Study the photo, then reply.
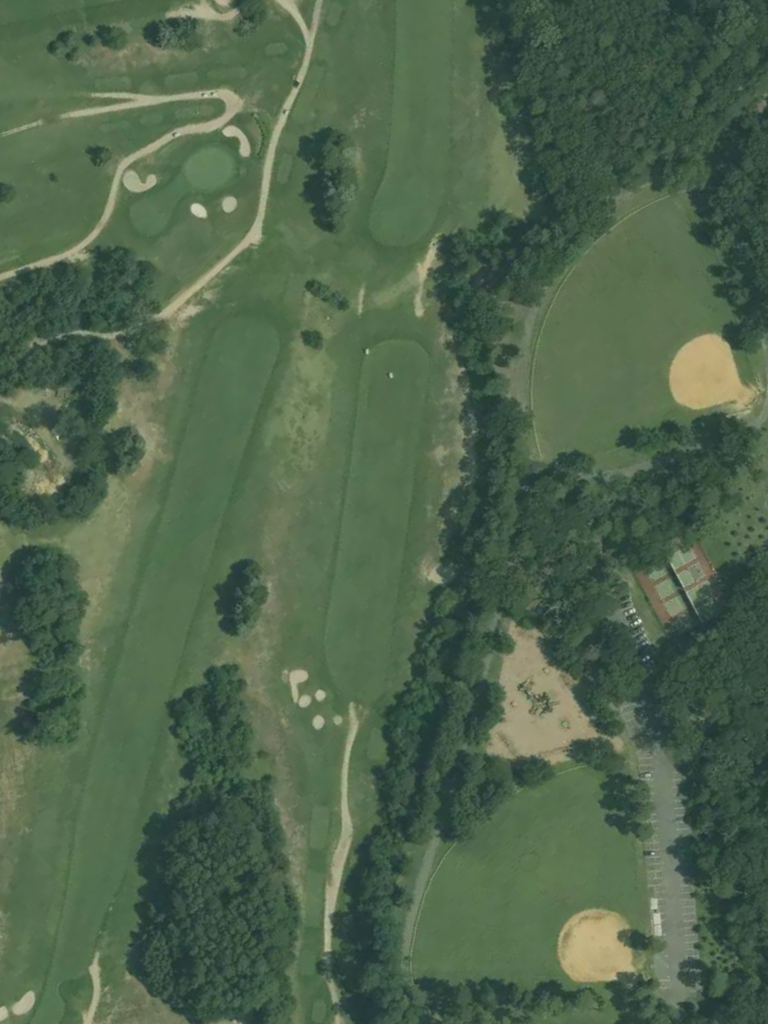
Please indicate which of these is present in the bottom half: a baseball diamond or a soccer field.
baseball diamond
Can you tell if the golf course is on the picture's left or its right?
left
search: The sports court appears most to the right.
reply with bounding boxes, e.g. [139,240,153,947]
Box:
[640,539,721,623]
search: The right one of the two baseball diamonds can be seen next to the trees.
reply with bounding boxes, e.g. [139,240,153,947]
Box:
[532,191,761,459]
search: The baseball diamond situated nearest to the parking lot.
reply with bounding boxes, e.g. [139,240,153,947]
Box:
[411,764,647,998]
